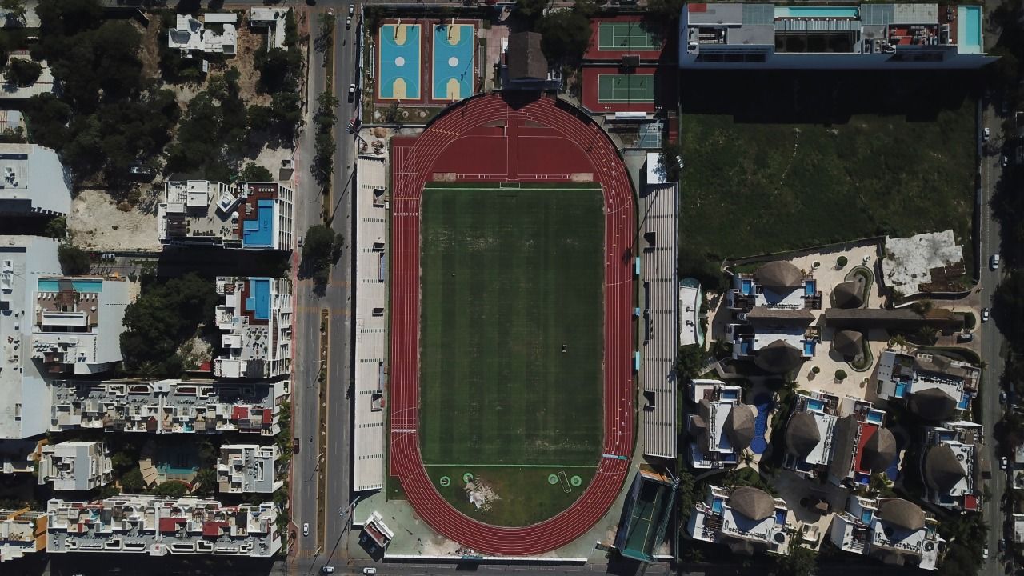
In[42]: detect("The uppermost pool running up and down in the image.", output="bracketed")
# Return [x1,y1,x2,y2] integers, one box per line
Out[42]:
[965,5,982,47]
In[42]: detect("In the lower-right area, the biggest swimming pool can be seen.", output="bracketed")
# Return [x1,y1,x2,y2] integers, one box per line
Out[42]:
[749,393,774,454]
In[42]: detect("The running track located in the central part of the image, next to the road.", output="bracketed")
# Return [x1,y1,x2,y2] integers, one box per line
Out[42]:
[390,94,633,555]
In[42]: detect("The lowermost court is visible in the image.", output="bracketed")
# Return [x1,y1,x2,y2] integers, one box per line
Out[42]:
[619,470,675,560]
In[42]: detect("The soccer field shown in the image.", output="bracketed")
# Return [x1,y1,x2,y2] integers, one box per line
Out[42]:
[419,182,605,528]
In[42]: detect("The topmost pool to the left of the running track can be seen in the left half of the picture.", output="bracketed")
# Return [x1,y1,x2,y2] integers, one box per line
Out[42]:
[243,199,274,246]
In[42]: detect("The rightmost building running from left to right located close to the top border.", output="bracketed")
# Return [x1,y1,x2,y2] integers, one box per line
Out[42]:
[677,3,1002,71]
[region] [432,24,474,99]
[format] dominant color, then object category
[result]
blue basketball court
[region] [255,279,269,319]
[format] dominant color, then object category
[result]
blue swimming pool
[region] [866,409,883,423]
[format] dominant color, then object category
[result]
blue swimming pool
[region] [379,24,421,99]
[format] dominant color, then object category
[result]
blue basketball court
